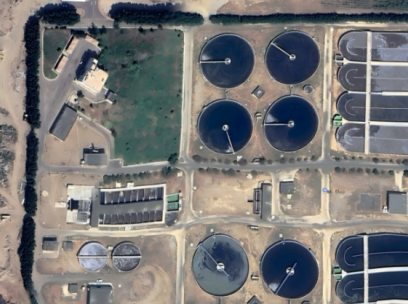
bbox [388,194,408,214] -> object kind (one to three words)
building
